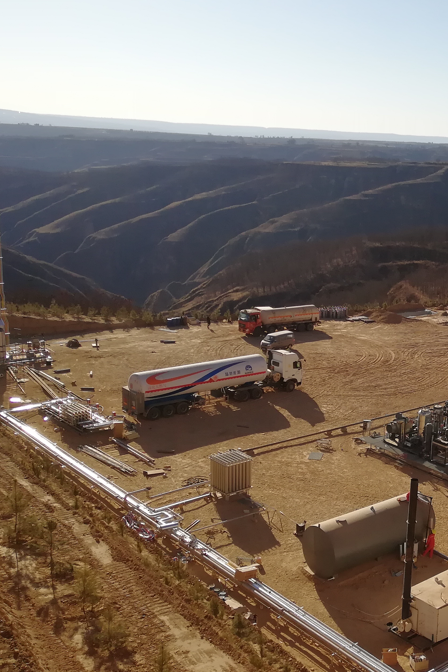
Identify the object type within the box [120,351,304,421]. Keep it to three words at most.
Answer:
truck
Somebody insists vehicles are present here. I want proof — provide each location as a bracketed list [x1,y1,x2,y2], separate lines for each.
[120,351,304,421]
[238,303,319,337]
[257,330,295,351]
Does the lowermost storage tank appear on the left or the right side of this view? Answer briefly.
right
